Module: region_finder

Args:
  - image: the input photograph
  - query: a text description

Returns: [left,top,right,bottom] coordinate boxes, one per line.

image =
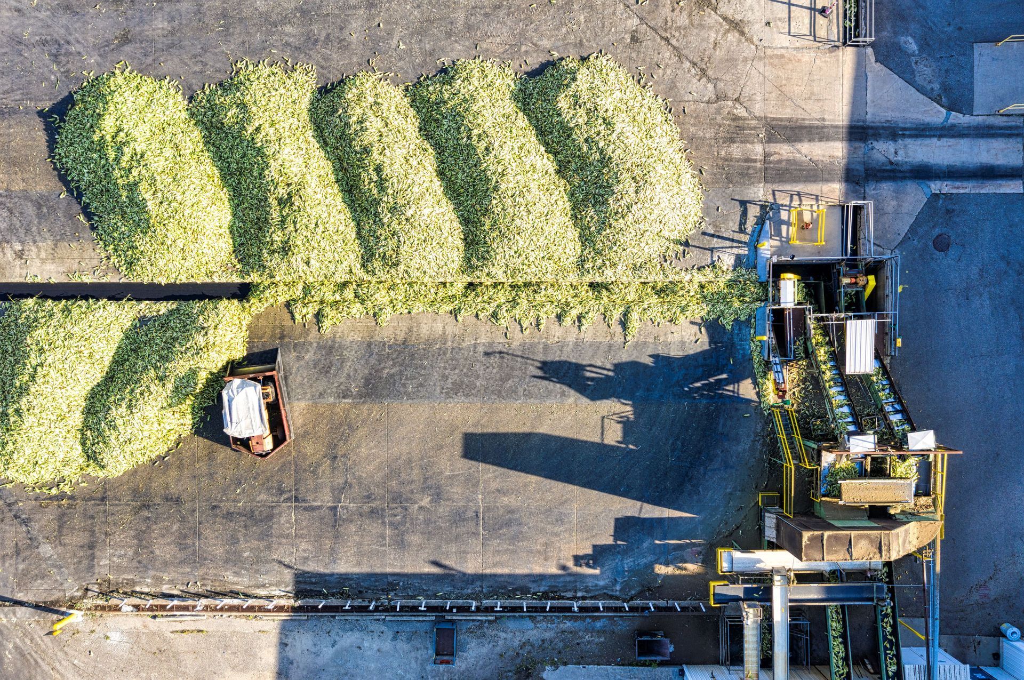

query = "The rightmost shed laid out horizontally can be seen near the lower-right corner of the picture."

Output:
[894,647,967,680]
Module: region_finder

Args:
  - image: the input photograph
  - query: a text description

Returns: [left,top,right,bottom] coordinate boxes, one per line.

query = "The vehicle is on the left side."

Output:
[217,349,295,460]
